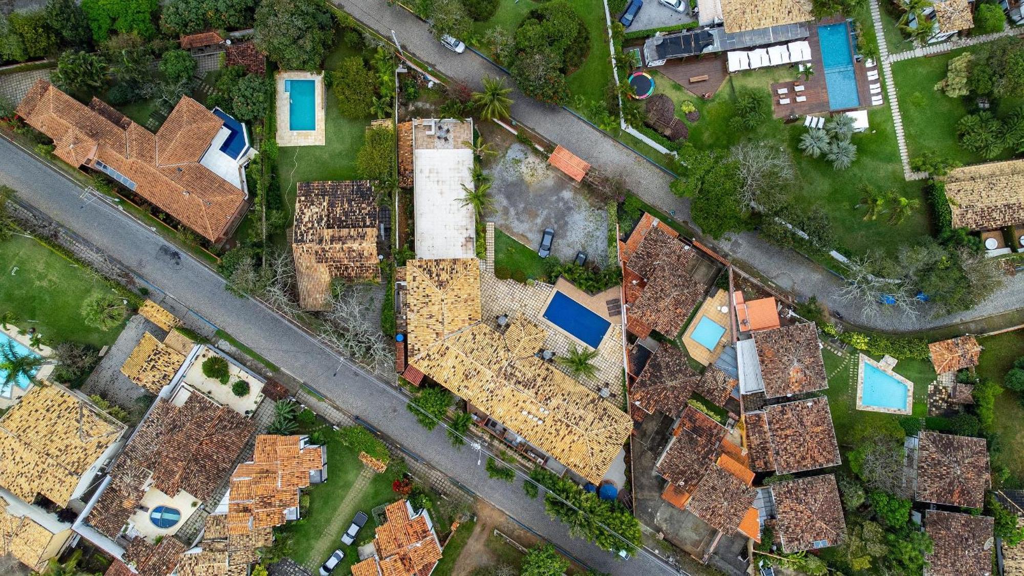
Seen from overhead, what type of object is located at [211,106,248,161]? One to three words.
swimming pool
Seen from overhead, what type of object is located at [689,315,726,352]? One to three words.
swimming pool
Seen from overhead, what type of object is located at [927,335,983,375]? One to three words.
shed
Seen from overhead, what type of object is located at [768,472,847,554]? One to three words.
house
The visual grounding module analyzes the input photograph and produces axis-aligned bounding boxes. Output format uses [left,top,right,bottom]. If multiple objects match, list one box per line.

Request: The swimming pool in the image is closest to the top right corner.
[818,22,861,111]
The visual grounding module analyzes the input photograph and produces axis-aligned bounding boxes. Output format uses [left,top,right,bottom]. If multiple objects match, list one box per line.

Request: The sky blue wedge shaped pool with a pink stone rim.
[862,361,908,411]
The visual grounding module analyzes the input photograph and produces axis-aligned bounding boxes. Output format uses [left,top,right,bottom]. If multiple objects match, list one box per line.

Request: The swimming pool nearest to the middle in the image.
[541,288,613,350]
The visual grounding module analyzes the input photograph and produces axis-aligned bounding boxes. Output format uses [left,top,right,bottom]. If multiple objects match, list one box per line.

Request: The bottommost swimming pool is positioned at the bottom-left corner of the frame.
[150,505,183,530]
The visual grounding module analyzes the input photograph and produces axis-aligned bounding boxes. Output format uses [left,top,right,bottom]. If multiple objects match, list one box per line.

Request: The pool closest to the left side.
[0,328,42,401]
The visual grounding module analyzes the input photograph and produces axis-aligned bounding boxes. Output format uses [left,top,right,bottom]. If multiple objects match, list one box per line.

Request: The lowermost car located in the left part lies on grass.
[321,548,346,576]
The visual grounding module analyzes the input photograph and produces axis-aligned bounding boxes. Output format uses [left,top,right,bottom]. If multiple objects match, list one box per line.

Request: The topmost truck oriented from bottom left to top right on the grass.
[342,510,368,544]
